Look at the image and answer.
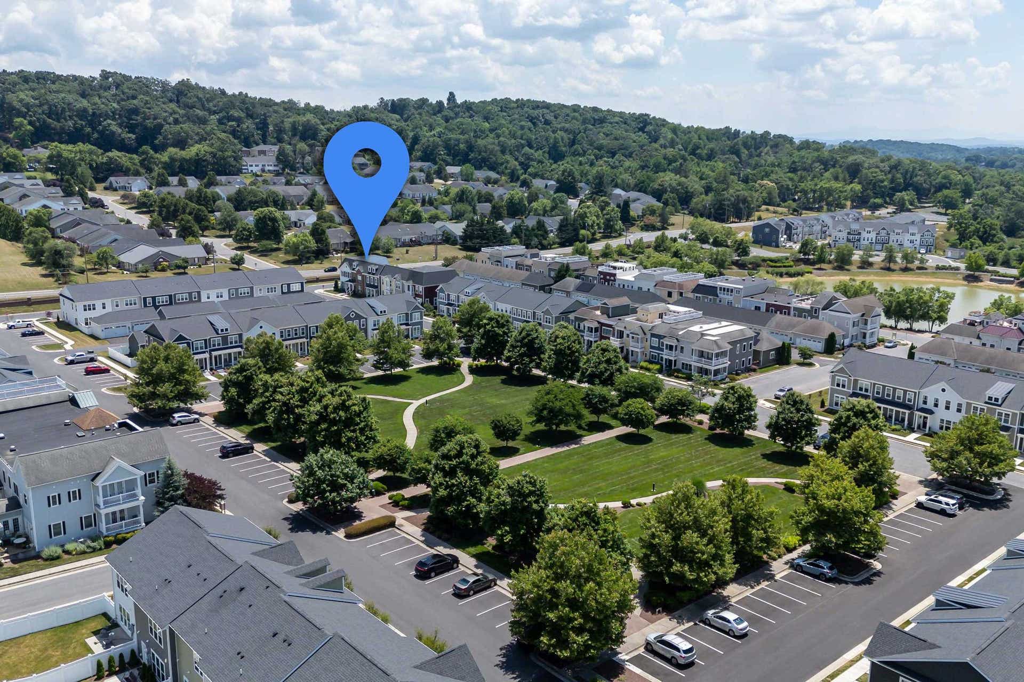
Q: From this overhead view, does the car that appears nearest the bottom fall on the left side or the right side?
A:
right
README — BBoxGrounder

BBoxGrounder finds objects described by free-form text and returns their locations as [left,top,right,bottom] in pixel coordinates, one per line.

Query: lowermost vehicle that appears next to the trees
[638,632,694,666]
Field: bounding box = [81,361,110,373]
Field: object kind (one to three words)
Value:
vehicle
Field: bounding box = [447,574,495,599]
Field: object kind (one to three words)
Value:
car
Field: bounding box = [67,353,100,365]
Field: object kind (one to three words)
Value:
vehicle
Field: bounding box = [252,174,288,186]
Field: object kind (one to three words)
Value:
house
